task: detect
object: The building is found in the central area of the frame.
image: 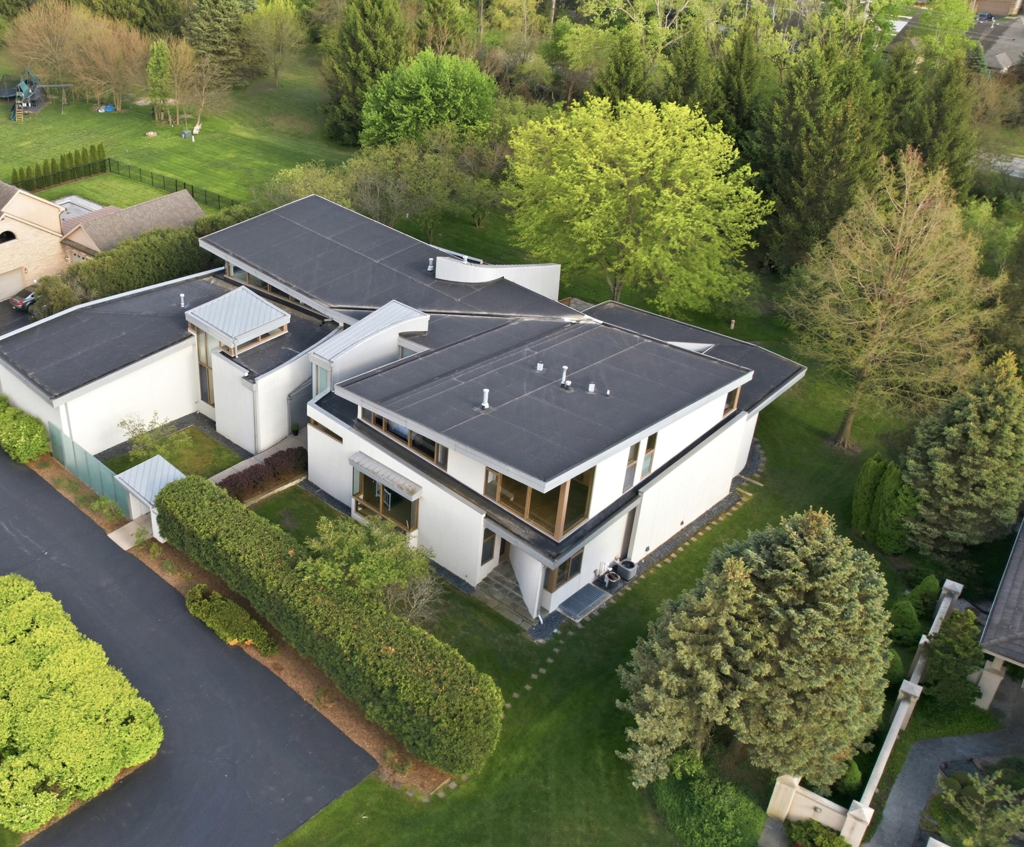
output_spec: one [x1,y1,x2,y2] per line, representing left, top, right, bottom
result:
[0,194,809,629]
